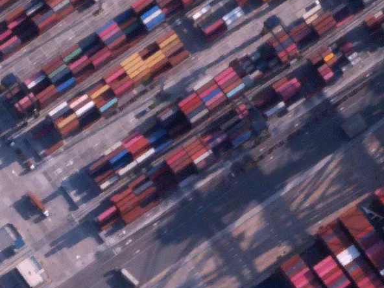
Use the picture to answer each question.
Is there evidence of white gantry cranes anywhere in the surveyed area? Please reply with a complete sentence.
No, there isn't any white gantry crane down there.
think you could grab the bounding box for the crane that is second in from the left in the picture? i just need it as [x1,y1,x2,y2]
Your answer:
[222,85,264,143]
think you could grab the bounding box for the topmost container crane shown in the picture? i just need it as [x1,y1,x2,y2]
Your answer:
[259,10,301,67]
